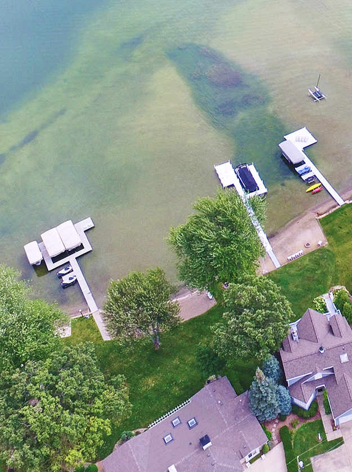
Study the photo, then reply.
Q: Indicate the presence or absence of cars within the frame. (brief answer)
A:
No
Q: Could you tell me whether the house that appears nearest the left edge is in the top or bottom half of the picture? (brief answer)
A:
bottom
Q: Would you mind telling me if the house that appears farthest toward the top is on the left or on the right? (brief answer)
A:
right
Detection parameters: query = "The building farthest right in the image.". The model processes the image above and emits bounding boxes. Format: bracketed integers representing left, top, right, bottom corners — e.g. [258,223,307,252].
[279,290,352,422]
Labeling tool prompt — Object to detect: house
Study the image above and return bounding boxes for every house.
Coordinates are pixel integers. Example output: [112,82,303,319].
[102,376,269,472]
[279,290,352,422]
